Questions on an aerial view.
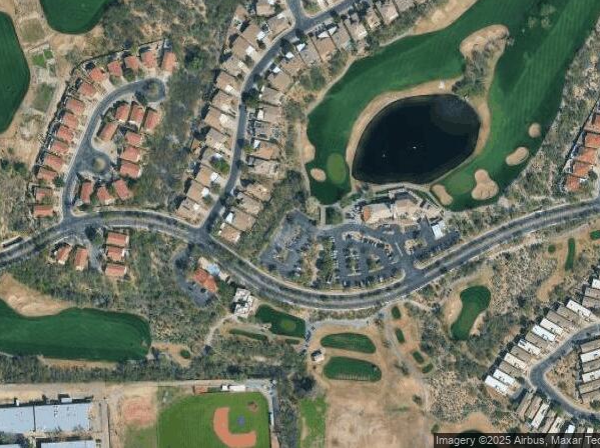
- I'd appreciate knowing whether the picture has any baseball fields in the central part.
No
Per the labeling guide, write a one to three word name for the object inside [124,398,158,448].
baseball field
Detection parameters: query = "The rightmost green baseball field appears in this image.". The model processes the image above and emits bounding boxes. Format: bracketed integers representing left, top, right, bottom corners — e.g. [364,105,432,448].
[158,391,272,448]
